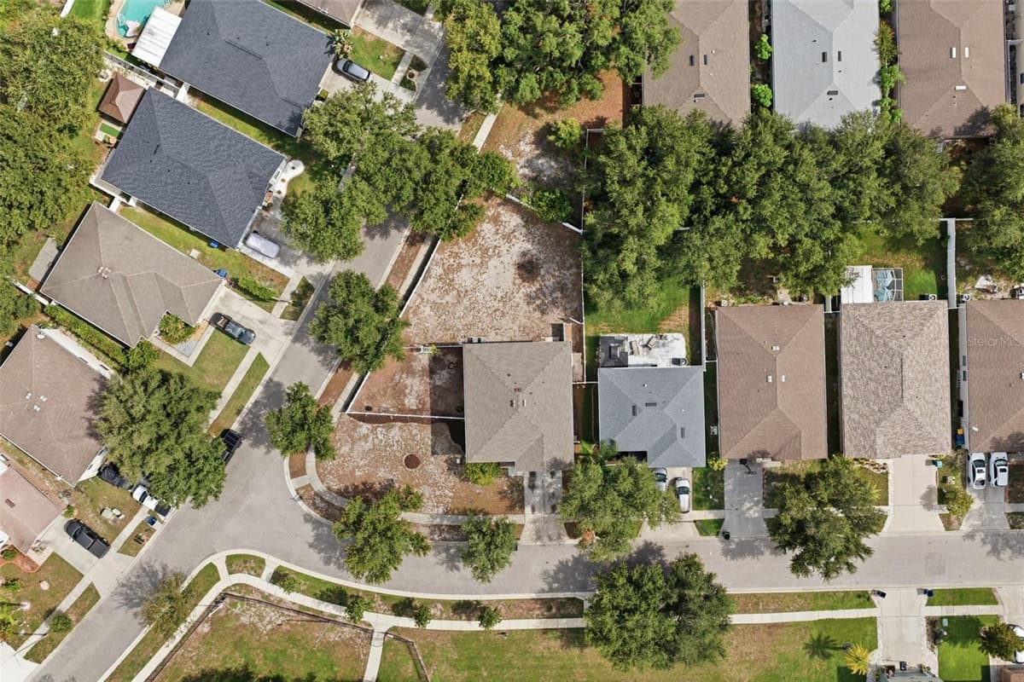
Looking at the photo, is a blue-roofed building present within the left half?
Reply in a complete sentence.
No, I can find no blue-roofed building within the left half.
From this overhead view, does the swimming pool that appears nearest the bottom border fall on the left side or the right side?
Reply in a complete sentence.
The swimming pool that appears nearest the bottom border appears in the right half of the scene.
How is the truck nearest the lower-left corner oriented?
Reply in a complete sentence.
From this overhead view, the truck nearest the lower-left corner appears to run on a diagonal.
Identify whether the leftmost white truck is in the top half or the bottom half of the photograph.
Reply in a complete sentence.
You can find the leftmost white truck in the bottom half.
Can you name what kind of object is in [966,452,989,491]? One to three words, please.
car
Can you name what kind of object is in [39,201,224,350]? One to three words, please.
house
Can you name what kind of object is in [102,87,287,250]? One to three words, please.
house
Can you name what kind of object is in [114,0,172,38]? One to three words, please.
swimming pool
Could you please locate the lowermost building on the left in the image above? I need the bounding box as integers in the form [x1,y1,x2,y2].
[0,448,67,554]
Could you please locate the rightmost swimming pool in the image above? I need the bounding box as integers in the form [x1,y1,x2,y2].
[875,268,896,301]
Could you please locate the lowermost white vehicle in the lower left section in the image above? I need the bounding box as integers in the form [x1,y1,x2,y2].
[129,487,176,523]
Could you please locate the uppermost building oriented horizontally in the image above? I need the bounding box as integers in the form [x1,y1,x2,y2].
[295,0,368,30]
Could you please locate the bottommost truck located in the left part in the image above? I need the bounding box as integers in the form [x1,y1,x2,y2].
[63,519,112,561]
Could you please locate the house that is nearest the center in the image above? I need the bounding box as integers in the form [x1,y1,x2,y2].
[463,324,574,476]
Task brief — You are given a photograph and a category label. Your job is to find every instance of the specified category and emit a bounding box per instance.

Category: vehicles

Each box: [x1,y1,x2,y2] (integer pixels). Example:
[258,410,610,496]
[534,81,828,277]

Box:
[332,55,374,84]
[966,452,989,491]
[212,426,247,471]
[673,475,693,516]
[651,468,671,505]
[987,452,1012,490]
[63,519,112,561]
[96,464,120,485]
[129,487,176,523]
[211,313,256,345]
